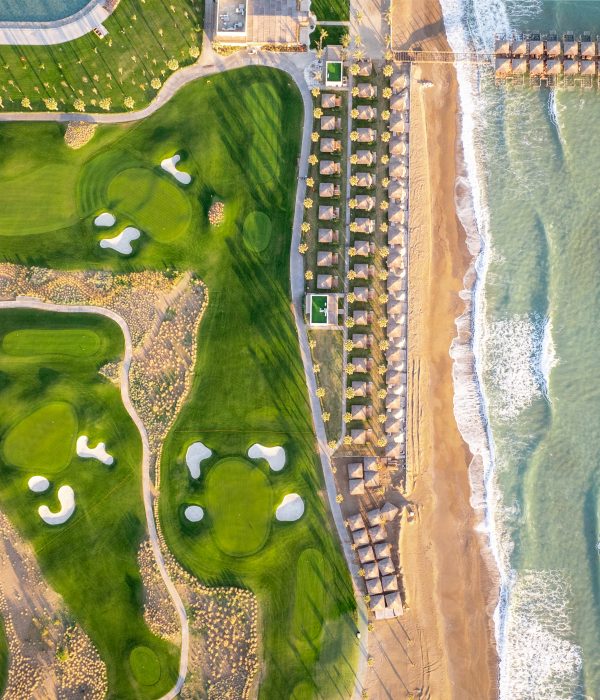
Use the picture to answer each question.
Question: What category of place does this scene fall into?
golf course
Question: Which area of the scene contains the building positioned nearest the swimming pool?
top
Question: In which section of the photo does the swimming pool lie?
top left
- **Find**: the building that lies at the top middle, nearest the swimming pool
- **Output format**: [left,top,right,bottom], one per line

[213,0,299,48]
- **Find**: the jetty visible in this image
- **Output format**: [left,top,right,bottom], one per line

[385,38,600,84]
